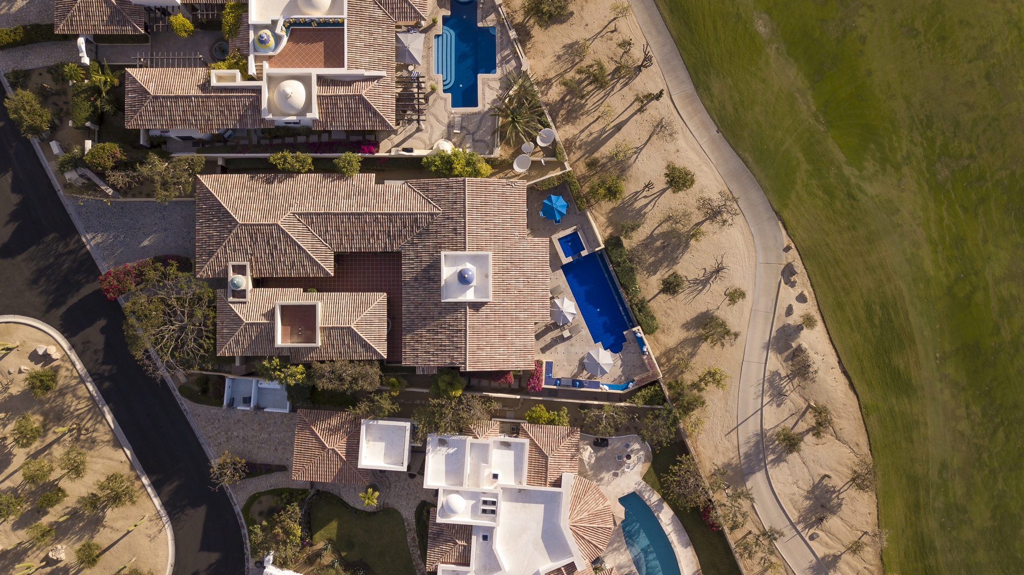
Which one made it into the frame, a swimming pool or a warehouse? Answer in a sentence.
There is a swimming pool in the scene.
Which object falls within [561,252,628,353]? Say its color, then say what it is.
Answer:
blue swimming pool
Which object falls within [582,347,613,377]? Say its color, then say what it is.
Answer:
white umbrella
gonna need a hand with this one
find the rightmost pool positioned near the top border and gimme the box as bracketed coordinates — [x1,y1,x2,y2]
[429,0,500,112]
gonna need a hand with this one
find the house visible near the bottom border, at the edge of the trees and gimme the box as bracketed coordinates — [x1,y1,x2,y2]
[291,409,616,575]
